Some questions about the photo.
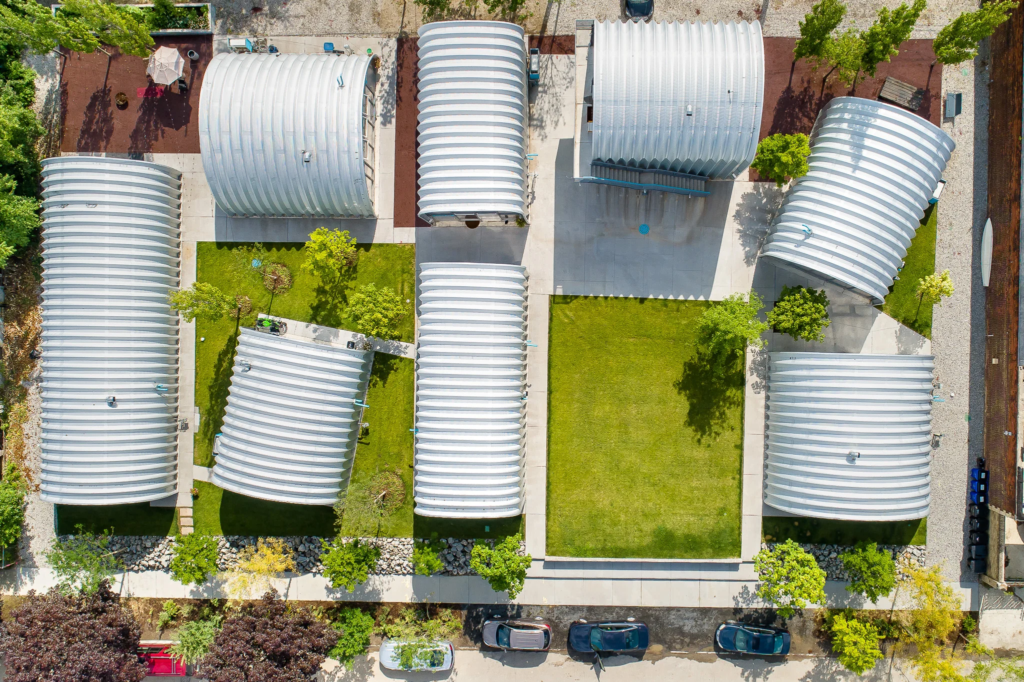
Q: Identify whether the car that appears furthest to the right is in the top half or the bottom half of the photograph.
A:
bottom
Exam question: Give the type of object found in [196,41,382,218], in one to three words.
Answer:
shed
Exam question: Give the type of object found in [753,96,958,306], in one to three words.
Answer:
shed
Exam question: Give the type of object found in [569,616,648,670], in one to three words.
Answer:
car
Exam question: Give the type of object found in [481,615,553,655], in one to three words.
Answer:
car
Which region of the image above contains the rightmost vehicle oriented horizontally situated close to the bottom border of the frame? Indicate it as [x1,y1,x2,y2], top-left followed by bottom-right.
[713,617,791,657]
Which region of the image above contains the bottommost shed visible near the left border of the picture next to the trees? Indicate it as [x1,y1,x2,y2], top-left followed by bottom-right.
[40,156,184,507]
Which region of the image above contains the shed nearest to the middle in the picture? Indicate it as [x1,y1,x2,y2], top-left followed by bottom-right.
[407,262,539,521]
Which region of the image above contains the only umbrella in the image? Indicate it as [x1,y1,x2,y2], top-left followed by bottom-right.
[149,45,183,86]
